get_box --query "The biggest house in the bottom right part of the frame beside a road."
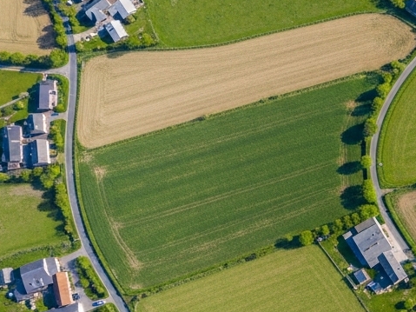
[343,218,410,286]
